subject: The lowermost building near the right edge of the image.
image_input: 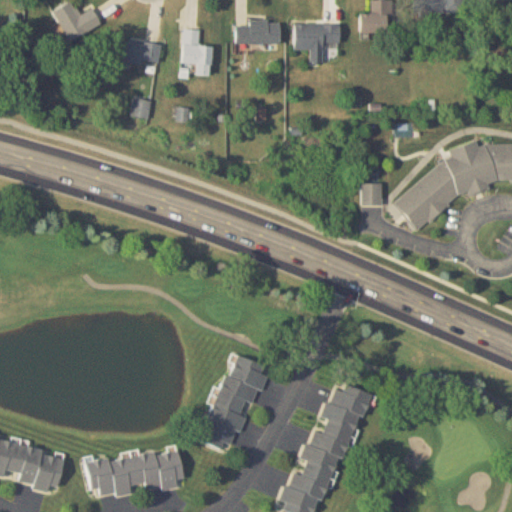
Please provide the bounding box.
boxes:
[389,137,512,231]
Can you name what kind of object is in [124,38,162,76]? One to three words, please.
house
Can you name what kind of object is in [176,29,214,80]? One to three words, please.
house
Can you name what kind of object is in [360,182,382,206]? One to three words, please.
building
